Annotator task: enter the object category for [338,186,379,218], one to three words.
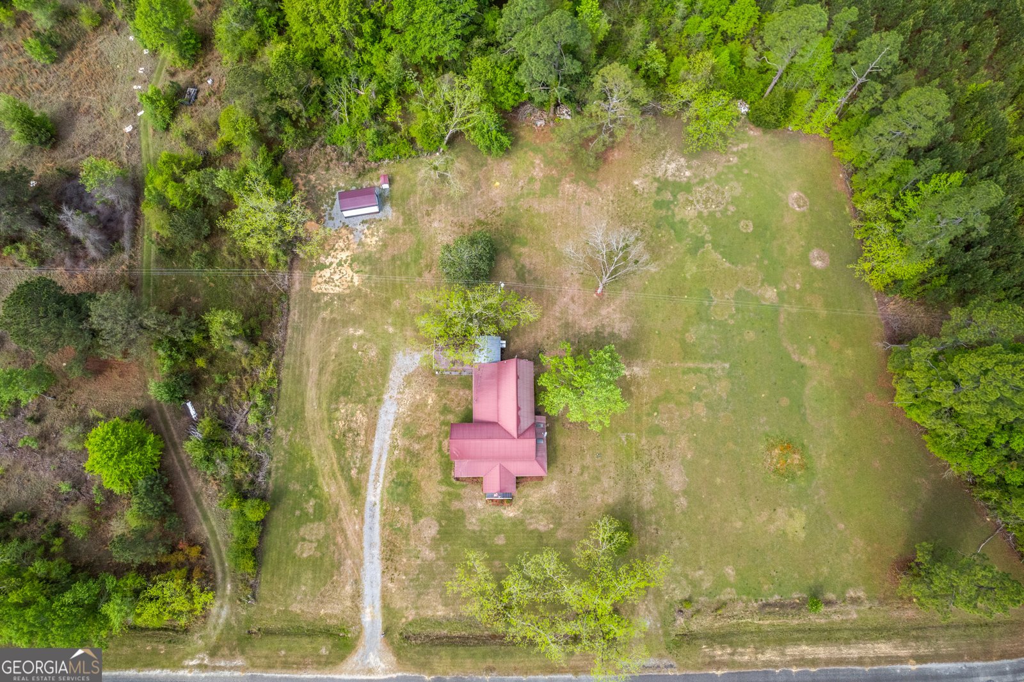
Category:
shed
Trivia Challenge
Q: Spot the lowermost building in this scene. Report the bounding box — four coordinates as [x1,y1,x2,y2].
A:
[449,354,547,493]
